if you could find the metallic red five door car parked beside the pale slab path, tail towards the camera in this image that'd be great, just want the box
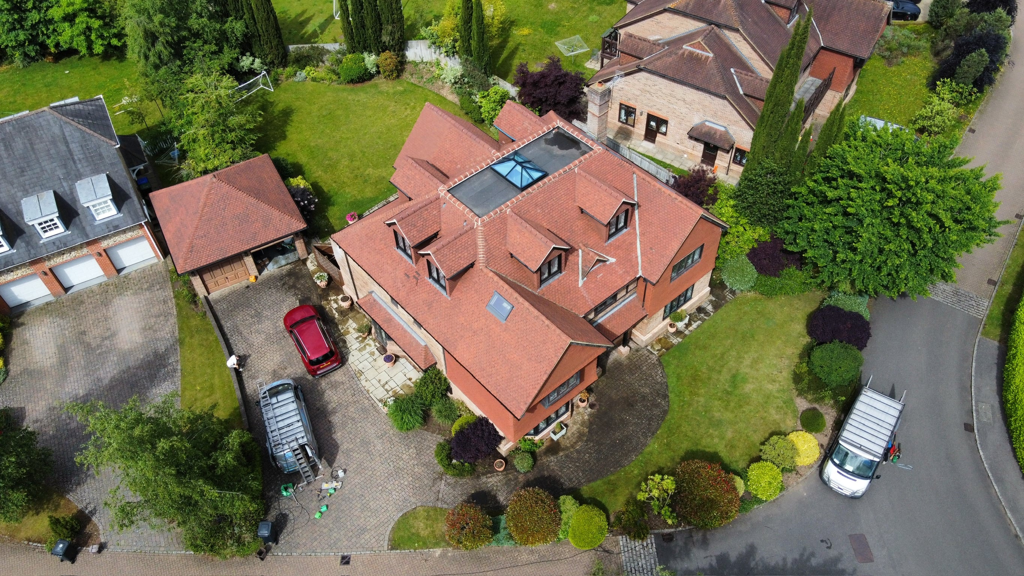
[283,303,344,384]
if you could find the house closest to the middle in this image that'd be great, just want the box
[330,98,729,461]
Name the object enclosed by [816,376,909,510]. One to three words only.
van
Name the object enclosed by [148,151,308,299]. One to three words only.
building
